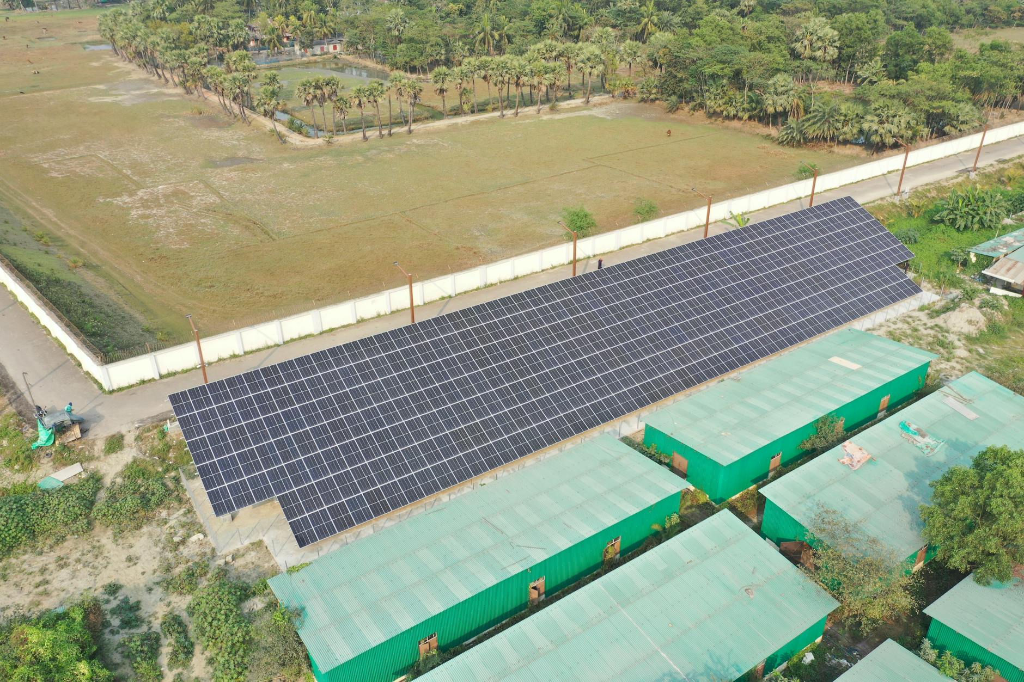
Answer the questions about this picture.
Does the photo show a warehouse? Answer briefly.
No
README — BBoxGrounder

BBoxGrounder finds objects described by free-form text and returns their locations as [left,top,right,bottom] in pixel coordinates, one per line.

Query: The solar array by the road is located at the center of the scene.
[167,196,923,550]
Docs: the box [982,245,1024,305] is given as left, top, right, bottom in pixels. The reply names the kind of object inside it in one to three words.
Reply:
shed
